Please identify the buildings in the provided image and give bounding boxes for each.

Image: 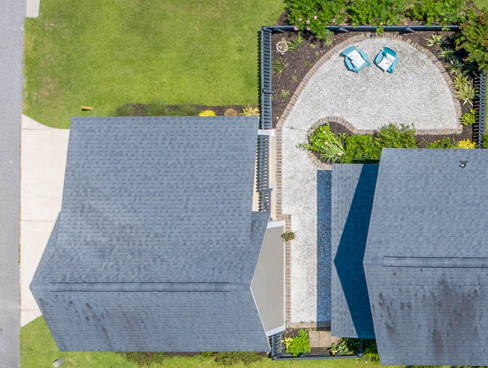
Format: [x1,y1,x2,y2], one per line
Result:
[330,148,488,367]
[32,117,286,352]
